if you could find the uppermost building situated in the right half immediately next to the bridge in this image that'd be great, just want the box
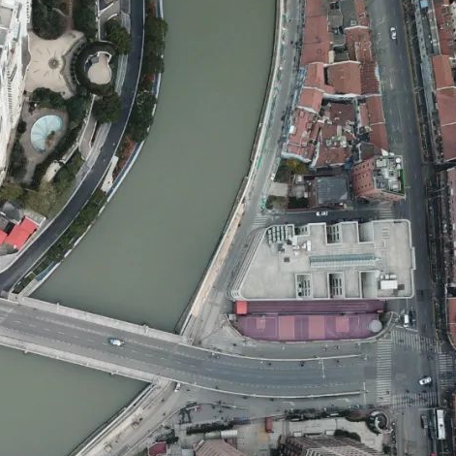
[225,220,416,300]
